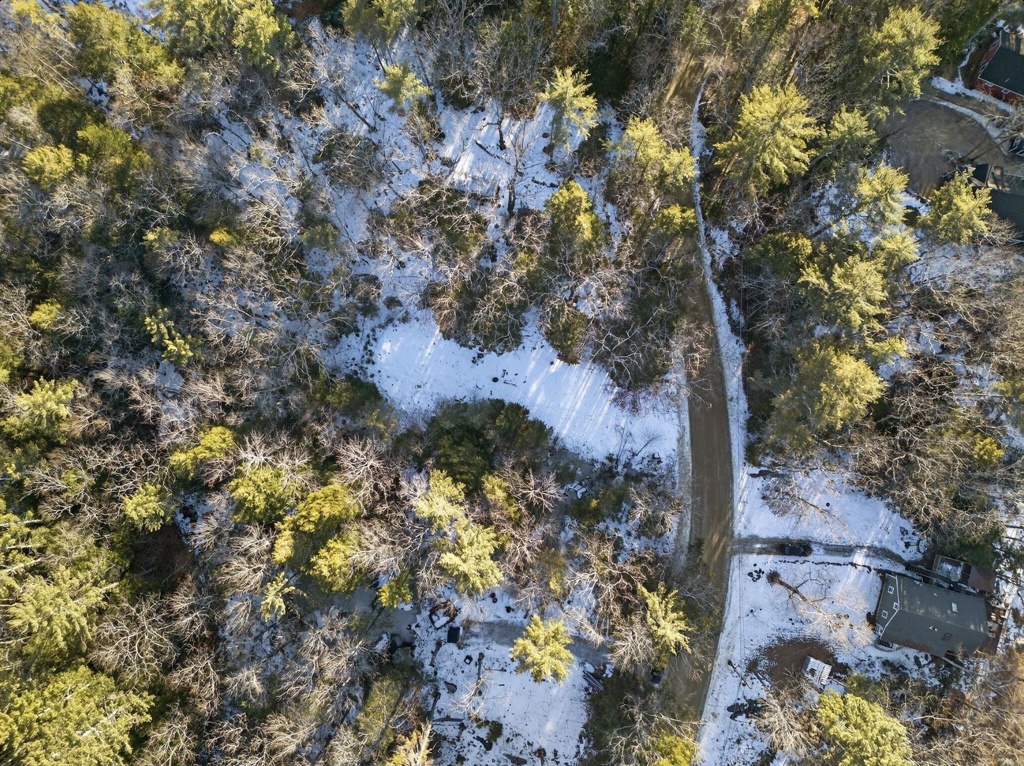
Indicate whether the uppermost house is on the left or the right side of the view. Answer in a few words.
right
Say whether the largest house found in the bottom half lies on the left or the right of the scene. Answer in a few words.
right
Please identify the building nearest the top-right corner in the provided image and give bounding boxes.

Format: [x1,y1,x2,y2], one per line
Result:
[960,28,1024,117]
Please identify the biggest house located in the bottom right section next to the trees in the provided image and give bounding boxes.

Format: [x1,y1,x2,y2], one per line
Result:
[871,552,1014,665]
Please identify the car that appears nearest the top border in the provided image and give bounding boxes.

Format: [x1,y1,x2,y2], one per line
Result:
[780,541,811,556]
